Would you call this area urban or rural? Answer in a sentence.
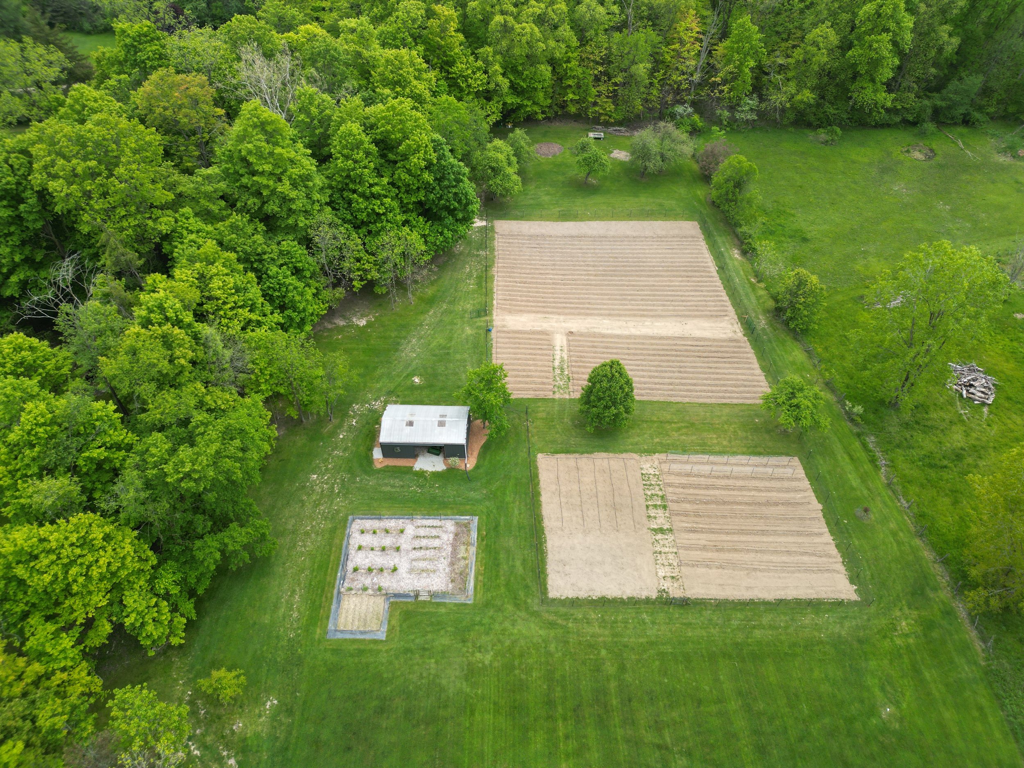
The area is rural.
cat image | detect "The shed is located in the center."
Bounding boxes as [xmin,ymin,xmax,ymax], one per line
[379,403,469,463]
